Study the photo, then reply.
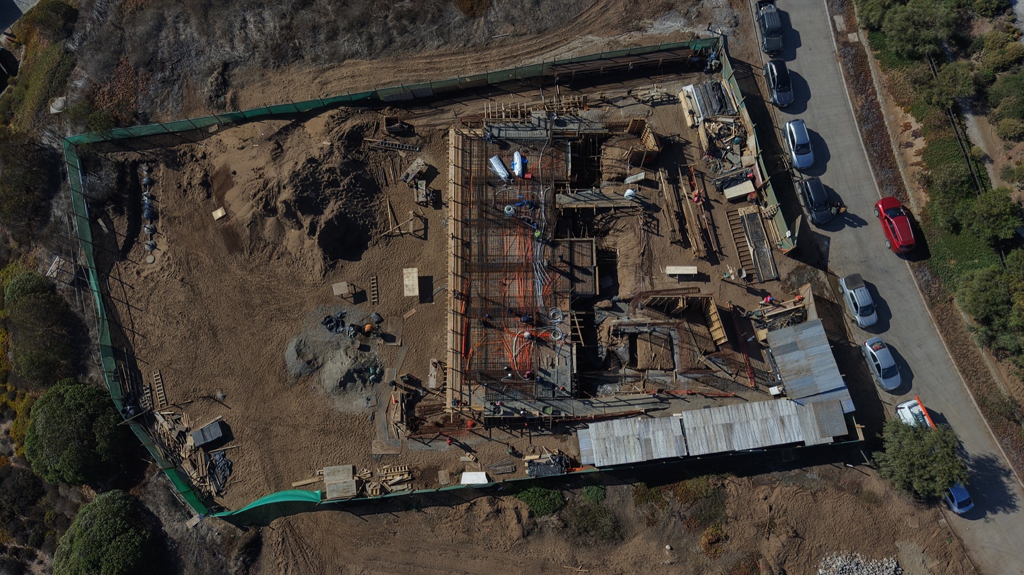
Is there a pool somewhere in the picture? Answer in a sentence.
No, I can't see a single pool in this photo.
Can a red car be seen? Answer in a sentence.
Yes, the picture does show a red car.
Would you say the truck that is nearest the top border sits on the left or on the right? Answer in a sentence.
The truck that is nearest the top border appears in the right half of the scene.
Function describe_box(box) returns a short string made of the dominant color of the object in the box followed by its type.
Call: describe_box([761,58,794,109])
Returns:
black car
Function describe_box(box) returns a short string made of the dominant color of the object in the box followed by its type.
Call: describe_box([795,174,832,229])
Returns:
black car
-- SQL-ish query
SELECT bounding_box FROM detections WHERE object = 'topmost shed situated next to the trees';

[760,319,857,416]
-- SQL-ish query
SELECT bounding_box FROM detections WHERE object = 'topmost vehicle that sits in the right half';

[752,0,784,54]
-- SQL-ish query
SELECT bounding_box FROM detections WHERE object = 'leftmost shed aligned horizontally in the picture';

[588,414,688,467]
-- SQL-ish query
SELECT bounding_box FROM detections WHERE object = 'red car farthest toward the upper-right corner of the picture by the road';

[871,198,917,256]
